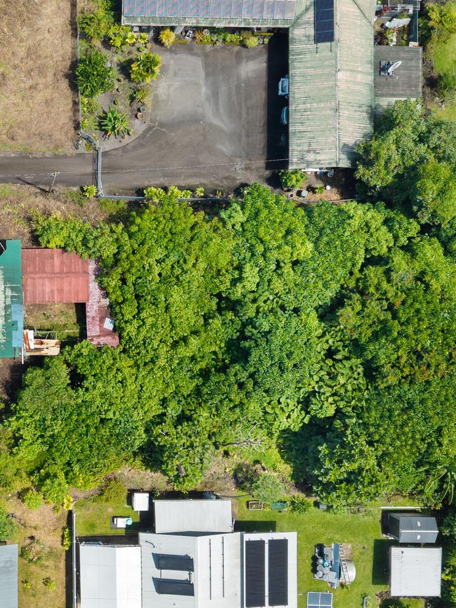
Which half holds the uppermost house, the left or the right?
right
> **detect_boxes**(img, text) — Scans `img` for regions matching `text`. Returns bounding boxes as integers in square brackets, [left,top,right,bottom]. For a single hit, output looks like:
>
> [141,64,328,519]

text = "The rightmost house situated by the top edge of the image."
[380,0,421,47]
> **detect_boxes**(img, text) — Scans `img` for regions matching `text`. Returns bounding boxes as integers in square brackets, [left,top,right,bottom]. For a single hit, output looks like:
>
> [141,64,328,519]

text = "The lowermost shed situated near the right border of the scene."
[384,545,442,596]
